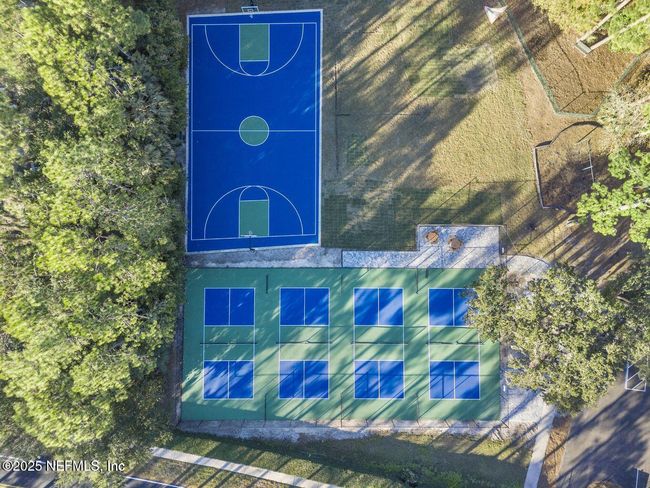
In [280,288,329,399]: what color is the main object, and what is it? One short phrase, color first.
blue sports court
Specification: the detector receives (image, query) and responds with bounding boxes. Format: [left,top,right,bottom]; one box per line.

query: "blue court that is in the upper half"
[185,9,323,252]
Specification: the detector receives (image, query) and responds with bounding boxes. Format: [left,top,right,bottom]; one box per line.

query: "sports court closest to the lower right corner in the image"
[429,288,480,399]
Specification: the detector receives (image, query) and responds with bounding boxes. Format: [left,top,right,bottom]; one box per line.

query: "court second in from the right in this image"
[354,288,404,399]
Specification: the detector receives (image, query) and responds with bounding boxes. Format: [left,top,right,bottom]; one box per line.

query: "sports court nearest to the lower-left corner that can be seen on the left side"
[204,288,255,399]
